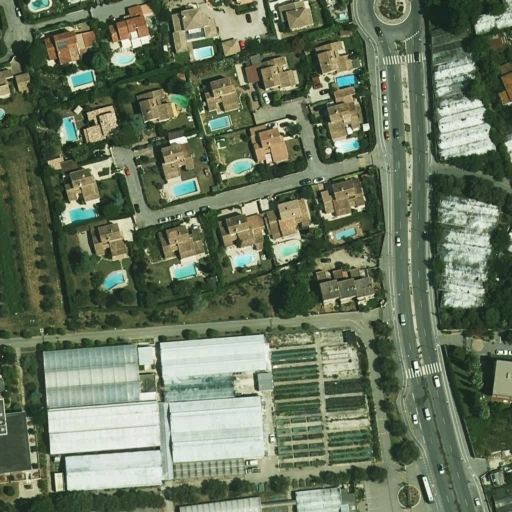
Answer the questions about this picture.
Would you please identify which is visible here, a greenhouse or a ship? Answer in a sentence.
The image shows a greenhouse.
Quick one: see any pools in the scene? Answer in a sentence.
Yes, the photo shows a pool.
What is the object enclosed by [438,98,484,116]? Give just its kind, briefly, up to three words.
greenhouse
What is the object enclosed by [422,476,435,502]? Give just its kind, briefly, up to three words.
vehicle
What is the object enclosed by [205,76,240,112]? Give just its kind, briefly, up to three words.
house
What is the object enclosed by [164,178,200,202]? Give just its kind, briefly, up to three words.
swimming pool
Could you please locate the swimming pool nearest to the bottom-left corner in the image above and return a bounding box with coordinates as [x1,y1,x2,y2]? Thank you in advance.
[102,270,127,292]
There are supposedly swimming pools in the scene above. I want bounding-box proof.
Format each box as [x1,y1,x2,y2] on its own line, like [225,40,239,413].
[192,46,215,61]
[208,116,232,134]
[164,178,200,202]
[102,270,127,292]
[168,93,188,108]
[28,0,52,12]
[274,240,300,260]
[64,198,100,225]
[170,258,198,281]
[335,74,357,89]
[221,159,255,180]
[110,50,136,68]
[66,69,96,92]
[328,222,364,244]
[334,138,360,152]
[227,250,256,273]
[336,12,349,23]
[60,116,80,145]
